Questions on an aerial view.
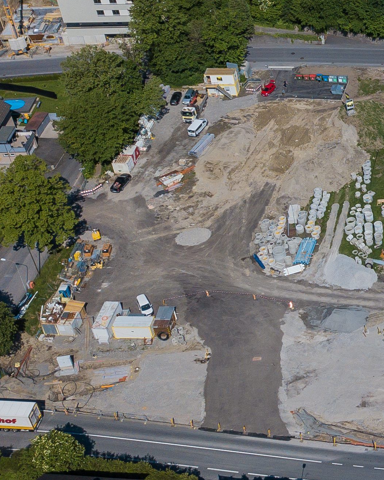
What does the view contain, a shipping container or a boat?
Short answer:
shipping container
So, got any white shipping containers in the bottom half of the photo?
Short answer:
Yes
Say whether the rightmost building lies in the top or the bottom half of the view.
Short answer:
top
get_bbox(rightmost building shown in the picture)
[201,70,241,98]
